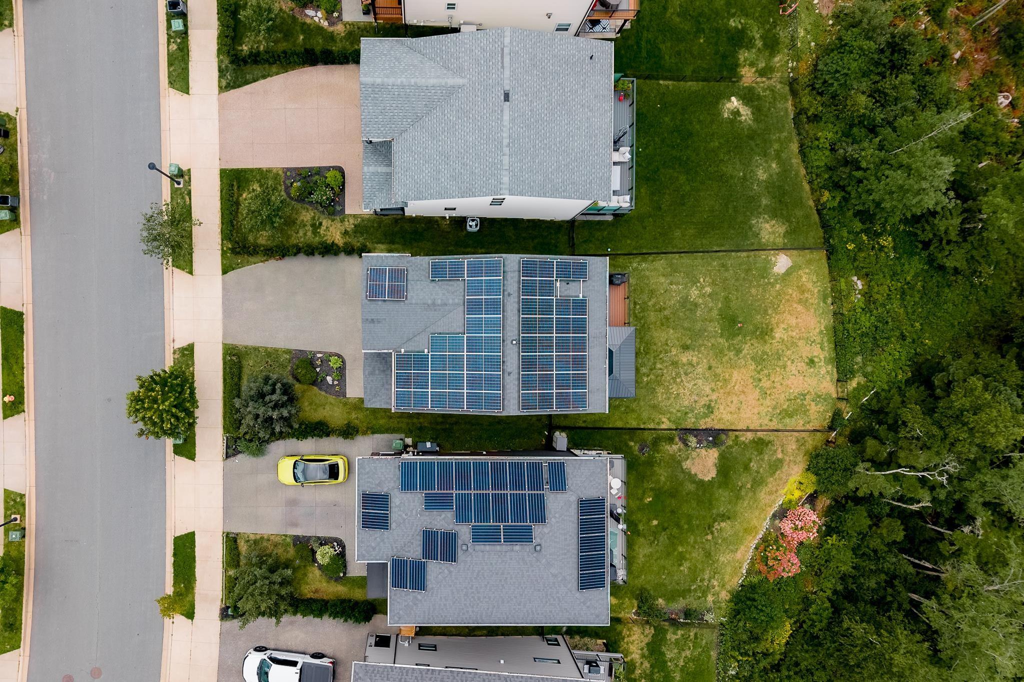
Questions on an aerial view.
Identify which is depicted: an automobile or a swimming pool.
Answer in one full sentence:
The image shows an automobile.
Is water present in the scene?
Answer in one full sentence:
No, there's no water in this view.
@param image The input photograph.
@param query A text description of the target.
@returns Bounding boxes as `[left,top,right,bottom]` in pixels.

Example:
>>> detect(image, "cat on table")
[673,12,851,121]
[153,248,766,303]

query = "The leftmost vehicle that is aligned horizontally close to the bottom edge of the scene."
[241,643,335,682]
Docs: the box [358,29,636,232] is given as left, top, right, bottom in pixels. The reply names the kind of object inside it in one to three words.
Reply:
house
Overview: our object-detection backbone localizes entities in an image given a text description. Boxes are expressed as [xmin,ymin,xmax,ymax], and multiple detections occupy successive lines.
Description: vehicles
[278,453,349,487]
[241,643,335,682]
